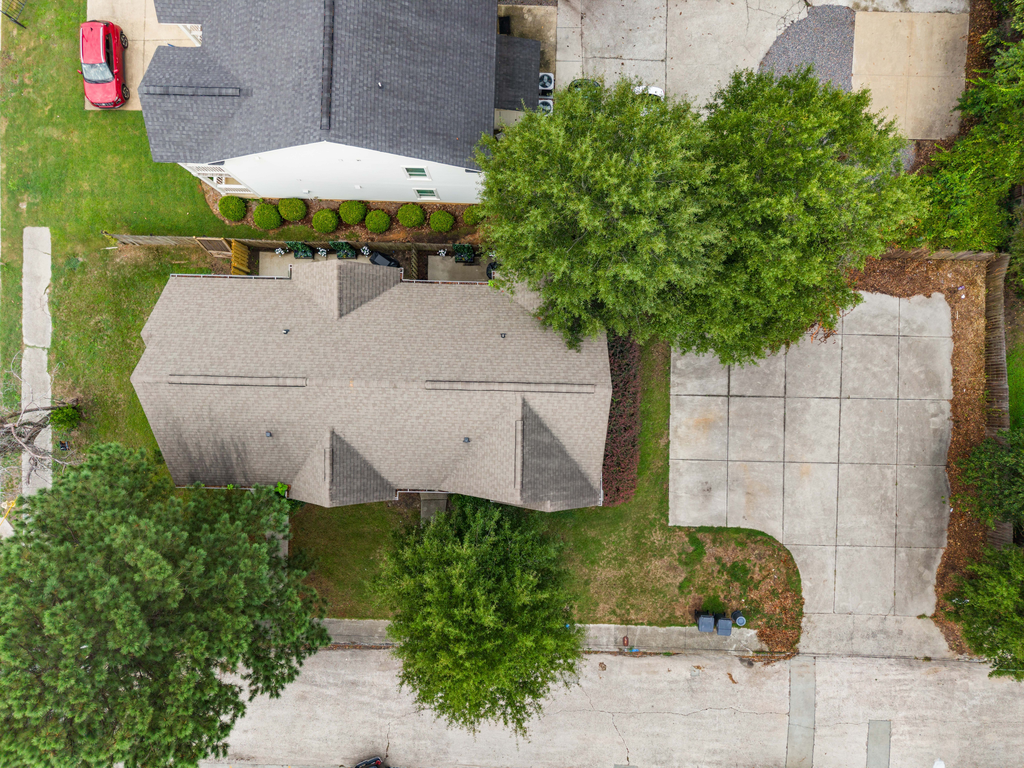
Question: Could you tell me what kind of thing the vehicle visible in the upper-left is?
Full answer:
What you see as the vehicle visible in the upper-left is a car.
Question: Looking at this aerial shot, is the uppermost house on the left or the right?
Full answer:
The uppermost house sits on the left side.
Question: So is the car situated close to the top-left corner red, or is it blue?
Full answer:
The color of the car situated close to the top-left corner is red.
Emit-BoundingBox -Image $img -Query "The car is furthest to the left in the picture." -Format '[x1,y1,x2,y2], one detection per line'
[76,20,130,110]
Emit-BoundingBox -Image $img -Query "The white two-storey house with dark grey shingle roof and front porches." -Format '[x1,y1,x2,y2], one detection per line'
[137,0,541,203]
